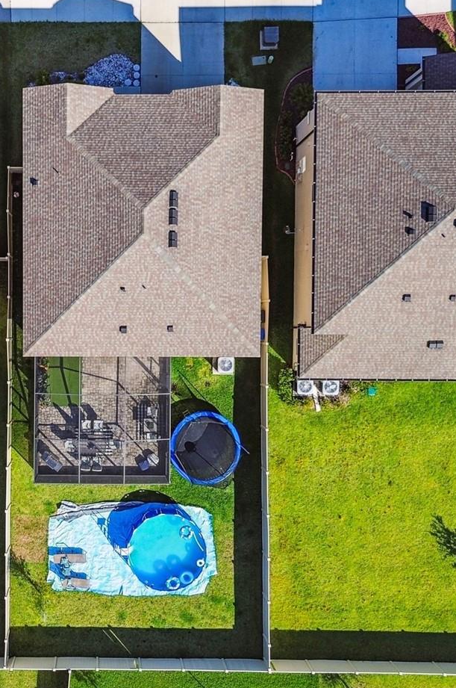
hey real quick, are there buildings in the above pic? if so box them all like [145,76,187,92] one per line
[292,54,456,382]
[22,83,265,358]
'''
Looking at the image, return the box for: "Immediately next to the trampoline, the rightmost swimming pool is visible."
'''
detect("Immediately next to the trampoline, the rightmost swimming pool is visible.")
[126,507,208,592]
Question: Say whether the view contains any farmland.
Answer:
No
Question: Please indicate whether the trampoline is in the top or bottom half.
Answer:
bottom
